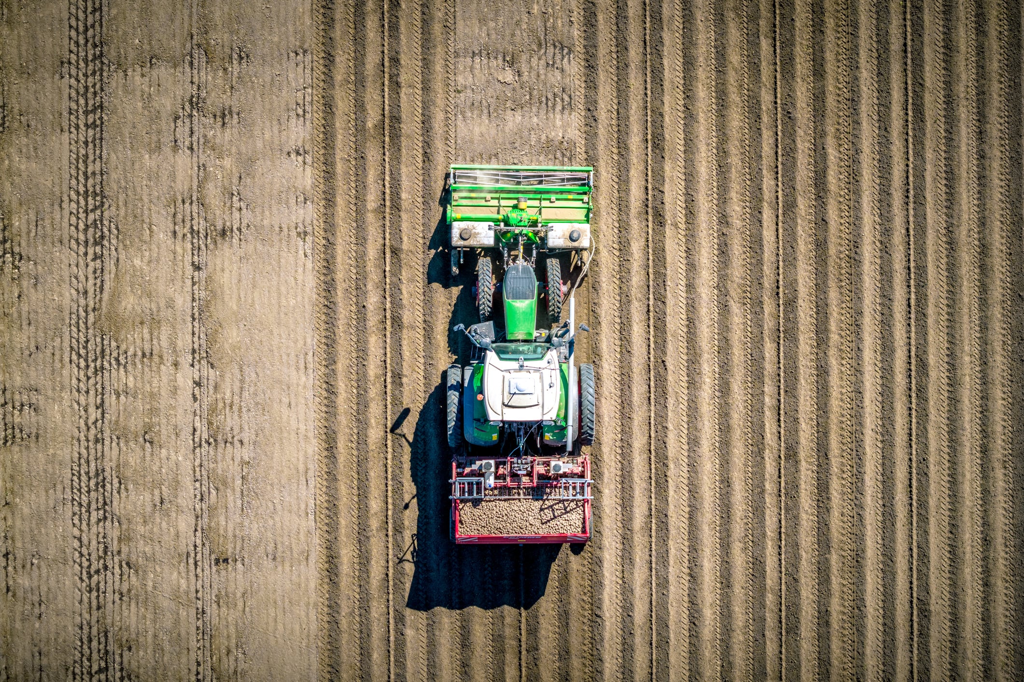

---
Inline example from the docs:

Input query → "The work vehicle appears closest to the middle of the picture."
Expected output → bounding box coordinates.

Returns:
[447,230,595,456]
